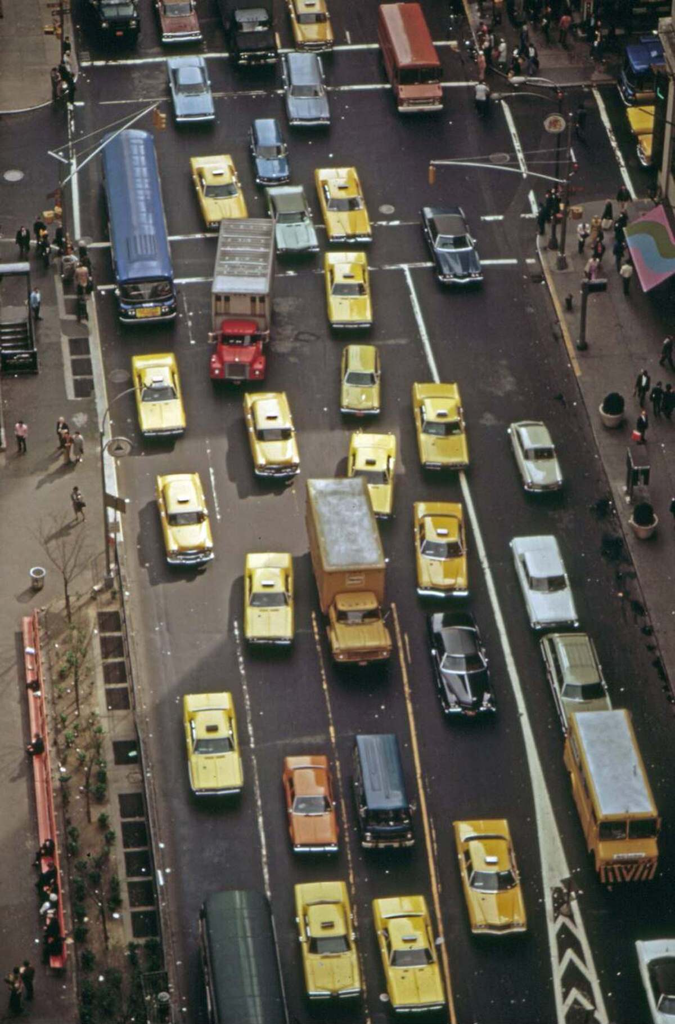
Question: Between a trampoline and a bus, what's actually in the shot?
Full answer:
It is a bus that can be seen here.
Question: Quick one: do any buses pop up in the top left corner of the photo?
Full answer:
Yes, a bus can be seen in the top left corner of the photo.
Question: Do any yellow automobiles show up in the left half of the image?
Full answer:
Yes, in the left half of the image there is a yellow automobile.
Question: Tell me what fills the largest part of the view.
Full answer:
Most of the picture is covered by paved ground.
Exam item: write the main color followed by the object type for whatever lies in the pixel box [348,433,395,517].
yellow car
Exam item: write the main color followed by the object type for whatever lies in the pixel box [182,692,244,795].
yellow car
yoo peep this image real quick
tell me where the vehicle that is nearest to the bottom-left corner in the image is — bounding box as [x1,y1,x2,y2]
[206,894,289,1024]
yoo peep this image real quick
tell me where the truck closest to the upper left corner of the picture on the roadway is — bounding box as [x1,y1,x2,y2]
[93,0,141,45]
